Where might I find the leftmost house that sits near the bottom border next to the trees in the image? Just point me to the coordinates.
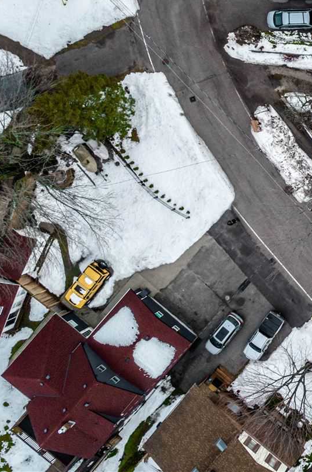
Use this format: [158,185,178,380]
[0,288,197,472]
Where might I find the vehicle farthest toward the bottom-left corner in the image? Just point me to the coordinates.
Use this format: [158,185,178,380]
[62,260,106,311]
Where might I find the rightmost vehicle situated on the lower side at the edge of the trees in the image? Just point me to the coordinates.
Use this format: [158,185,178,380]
[237,307,289,366]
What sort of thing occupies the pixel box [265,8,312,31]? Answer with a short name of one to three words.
car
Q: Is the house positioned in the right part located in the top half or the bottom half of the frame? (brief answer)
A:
bottom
